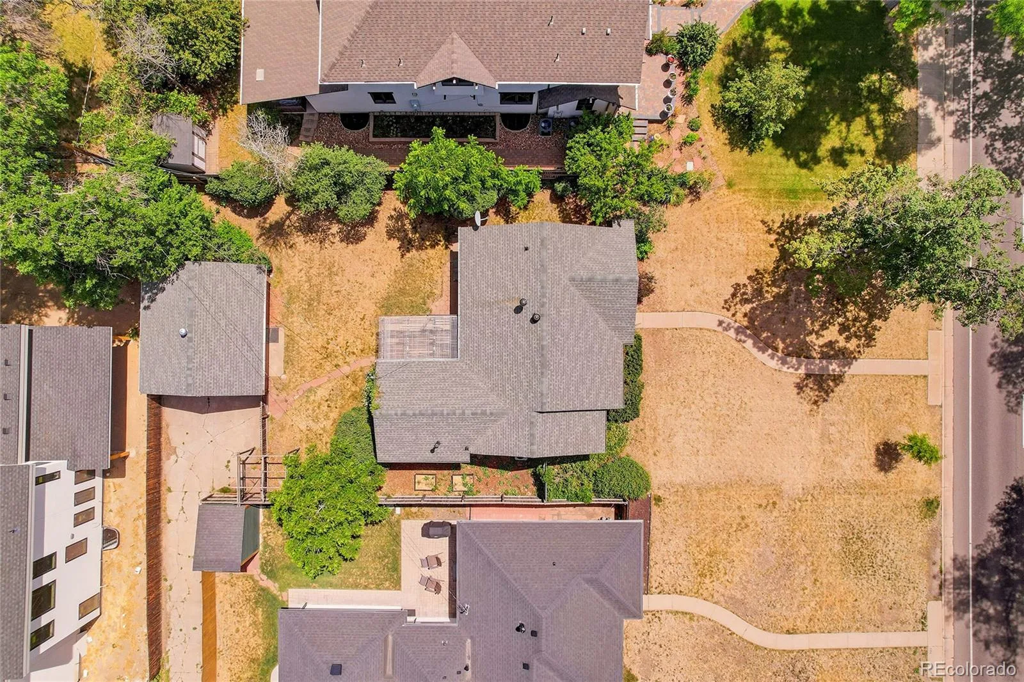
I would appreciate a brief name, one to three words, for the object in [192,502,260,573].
shed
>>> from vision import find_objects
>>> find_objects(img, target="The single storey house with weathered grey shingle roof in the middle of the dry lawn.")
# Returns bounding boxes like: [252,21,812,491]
[374,220,638,464]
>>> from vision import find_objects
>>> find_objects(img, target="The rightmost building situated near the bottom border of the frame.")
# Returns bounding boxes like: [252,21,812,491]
[278,518,644,682]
